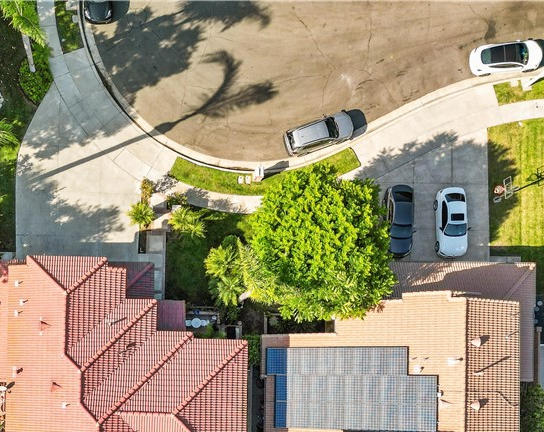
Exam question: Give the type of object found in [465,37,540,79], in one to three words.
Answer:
car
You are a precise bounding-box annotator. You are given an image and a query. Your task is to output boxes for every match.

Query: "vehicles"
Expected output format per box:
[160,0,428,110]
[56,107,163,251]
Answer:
[82,0,115,28]
[527,45,544,82]
[382,184,420,259]
[280,111,354,159]
[432,186,472,259]
[465,37,540,79]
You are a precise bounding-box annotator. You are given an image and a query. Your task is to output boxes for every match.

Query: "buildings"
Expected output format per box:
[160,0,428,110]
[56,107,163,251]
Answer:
[0,253,249,432]
[260,262,537,432]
